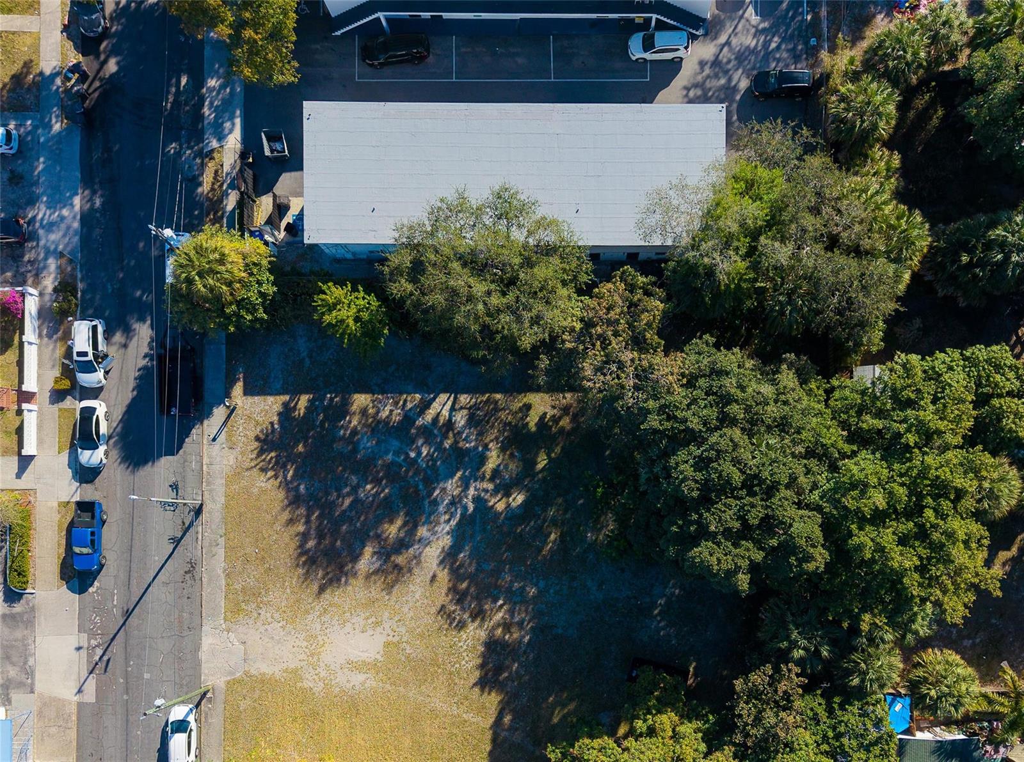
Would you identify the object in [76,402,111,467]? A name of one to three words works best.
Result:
car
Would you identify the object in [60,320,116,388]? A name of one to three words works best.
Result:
car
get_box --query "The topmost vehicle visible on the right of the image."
[627,28,691,63]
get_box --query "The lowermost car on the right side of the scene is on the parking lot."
[747,65,815,100]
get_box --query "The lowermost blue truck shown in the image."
[70,499,107,570]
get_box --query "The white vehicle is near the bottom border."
[166,703,201,762]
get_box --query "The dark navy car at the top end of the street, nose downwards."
[73,0,107,39]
